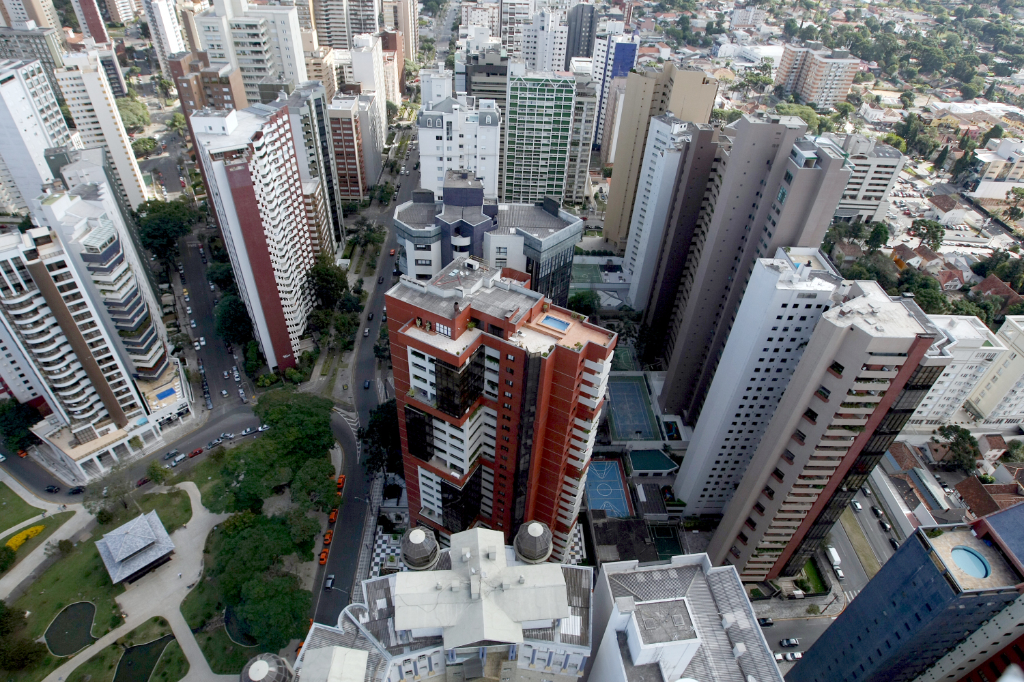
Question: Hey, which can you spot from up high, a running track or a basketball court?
basketball court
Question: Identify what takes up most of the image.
buildings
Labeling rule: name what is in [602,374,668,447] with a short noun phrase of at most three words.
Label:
tennis court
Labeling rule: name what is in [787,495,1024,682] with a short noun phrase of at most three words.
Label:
building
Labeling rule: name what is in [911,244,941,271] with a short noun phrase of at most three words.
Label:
house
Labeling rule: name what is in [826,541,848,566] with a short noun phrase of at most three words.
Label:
truck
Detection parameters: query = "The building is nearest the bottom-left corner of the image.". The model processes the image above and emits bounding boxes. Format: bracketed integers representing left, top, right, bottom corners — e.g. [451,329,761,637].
[93,508,177,589]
